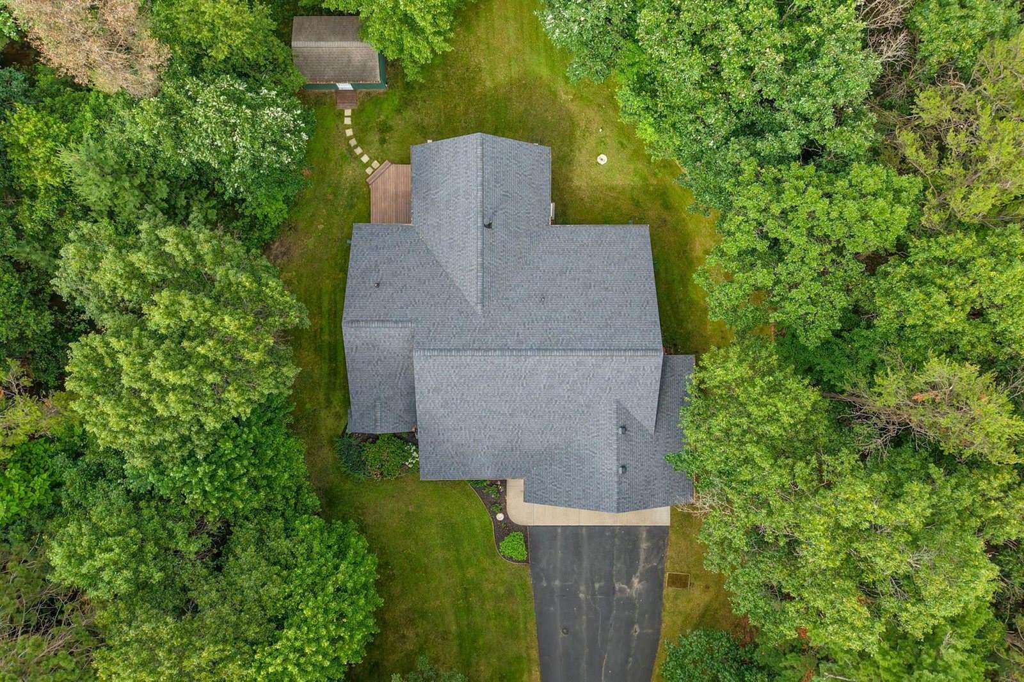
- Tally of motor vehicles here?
0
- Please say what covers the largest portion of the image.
trees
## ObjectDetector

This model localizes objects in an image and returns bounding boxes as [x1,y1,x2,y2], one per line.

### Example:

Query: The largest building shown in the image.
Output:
[344,133,697,513]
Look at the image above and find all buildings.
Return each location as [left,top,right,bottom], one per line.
[344,133,697,513]
[290,16,387,89]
